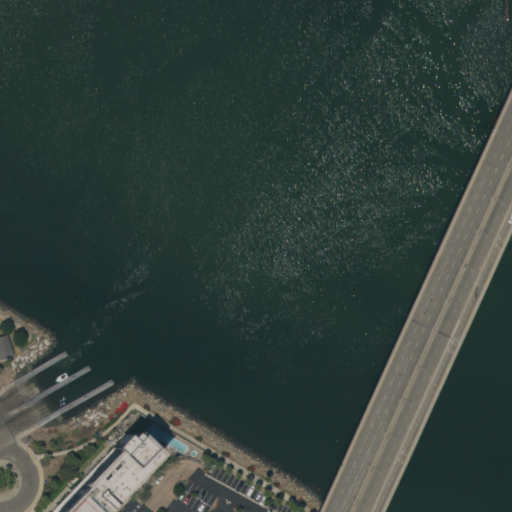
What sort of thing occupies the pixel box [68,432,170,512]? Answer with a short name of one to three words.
building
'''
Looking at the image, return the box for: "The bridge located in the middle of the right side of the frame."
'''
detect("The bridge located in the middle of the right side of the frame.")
[321,96,512,512]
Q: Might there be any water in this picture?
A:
Yes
